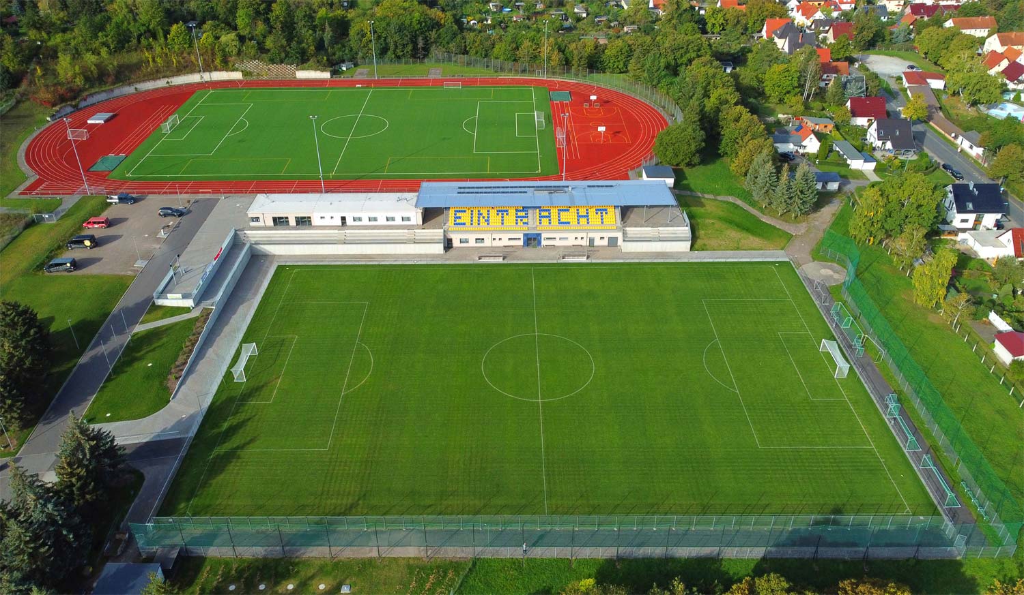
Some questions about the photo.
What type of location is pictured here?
sports ground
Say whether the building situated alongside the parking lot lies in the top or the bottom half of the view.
top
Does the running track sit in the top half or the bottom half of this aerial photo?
top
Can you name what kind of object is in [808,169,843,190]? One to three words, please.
building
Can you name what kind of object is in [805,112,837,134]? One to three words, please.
shed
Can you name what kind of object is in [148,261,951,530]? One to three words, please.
sports field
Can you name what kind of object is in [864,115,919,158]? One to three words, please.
house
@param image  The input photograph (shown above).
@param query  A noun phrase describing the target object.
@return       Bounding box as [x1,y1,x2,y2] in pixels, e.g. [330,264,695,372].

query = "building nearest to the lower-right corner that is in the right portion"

[976,324,1024,370]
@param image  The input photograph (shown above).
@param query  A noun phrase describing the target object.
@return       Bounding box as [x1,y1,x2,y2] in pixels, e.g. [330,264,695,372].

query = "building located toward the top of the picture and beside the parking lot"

[242,188,427,226]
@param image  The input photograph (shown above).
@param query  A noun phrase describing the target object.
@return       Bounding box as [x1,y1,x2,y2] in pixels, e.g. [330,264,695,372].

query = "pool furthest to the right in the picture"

[983,101,1024,122]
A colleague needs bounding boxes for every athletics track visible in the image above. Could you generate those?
[29,78,668,195]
